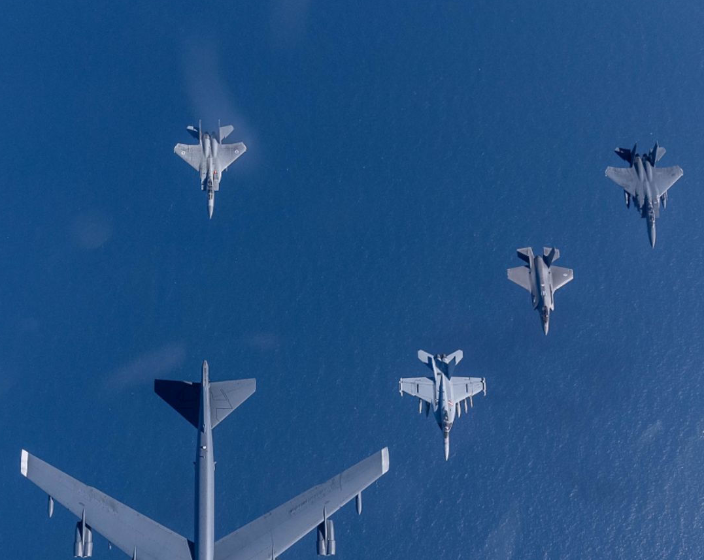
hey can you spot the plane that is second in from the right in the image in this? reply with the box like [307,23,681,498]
[506,247,574,335]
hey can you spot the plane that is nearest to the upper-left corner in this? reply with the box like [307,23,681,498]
[175,118,246,219]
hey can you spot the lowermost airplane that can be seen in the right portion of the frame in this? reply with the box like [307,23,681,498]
[400,350,485,461]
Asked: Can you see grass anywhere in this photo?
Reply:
No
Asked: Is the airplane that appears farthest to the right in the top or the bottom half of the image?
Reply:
top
